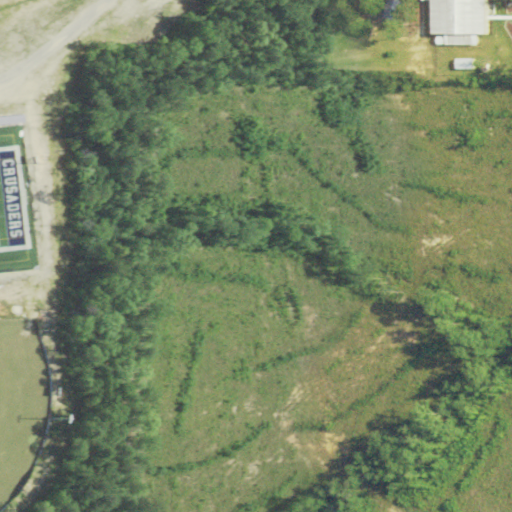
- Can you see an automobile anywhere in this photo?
No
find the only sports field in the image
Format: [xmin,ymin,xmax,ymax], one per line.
[0,126,38,274]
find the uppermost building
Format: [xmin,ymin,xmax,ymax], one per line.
[420,0,490,45]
